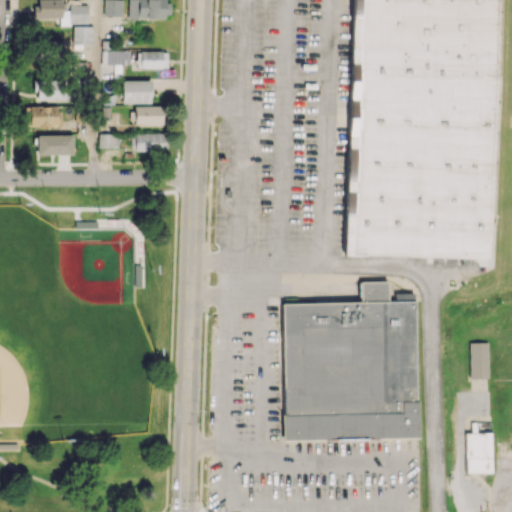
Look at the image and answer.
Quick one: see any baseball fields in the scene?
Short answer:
Yes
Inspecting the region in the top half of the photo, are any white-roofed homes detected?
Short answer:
Yes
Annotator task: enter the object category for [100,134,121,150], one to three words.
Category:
building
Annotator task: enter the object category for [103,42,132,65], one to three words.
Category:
building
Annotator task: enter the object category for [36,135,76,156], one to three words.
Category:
house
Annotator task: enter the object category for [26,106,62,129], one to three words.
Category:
house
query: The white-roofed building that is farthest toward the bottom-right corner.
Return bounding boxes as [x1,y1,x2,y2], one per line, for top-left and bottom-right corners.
[466,422,495,476]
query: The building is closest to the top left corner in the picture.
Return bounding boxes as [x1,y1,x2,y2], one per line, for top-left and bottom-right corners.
[35,0,72,28]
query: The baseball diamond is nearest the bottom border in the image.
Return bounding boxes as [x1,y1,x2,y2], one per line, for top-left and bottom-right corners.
[0,345,148,444]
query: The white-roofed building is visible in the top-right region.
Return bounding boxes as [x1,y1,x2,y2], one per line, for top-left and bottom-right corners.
[346,0,504,269]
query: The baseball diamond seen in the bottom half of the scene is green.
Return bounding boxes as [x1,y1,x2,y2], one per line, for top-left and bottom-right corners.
[0,206,154,442]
